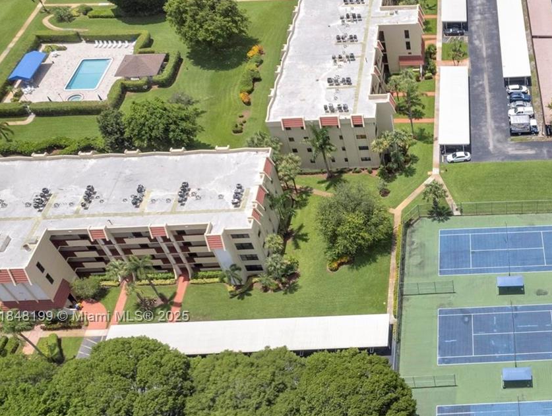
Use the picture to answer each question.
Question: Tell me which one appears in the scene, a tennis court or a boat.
tennis court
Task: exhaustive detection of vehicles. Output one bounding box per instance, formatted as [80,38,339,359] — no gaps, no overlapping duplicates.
[537,127,552,138]
[509,94,531,103]
[444,25,464,35]
[509,100,529,110]
[447,151,472,163]
[508,107,536,118]
[507,84,528,95]
[508,114,539,132]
